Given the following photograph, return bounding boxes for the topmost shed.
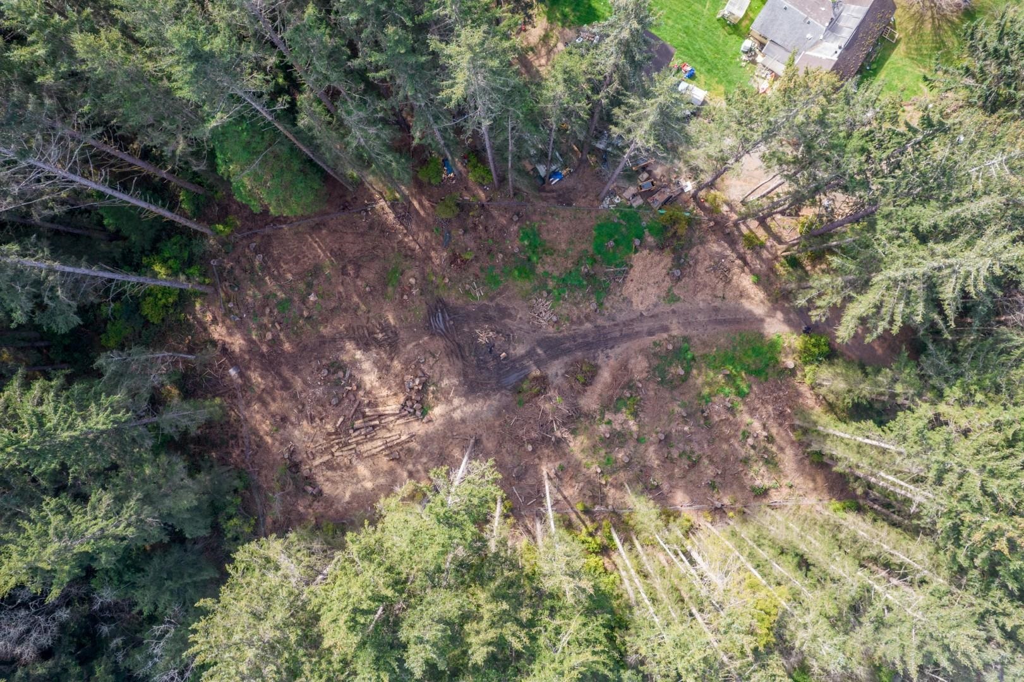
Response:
[724,0,760,32]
